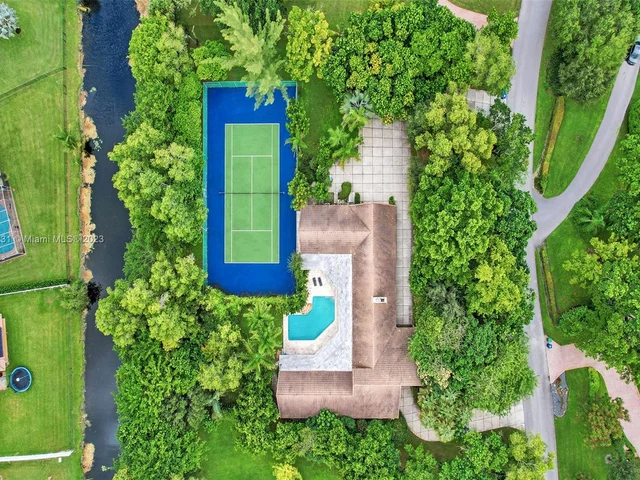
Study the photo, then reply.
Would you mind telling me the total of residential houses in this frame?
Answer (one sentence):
The count comes to 1 residential house.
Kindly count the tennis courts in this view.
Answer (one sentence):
In total, 1 tennis court can be seen.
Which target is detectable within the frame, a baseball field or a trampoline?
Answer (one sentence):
The image shows a trampoline.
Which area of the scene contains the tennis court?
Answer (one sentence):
The tennis court appears toward the center of the photo.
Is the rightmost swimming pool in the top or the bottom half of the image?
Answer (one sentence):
The rightmost swimming pool sits in the bottom half of the picture.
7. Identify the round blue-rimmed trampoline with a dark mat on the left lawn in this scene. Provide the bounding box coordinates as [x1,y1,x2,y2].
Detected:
[5,366,33,395]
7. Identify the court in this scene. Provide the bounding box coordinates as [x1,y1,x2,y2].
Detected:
[208,88,296,296]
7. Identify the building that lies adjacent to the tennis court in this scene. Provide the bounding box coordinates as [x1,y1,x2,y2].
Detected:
[276,202,421,419]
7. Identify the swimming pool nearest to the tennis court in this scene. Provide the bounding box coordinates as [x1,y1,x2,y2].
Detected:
[286,295,336,342]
